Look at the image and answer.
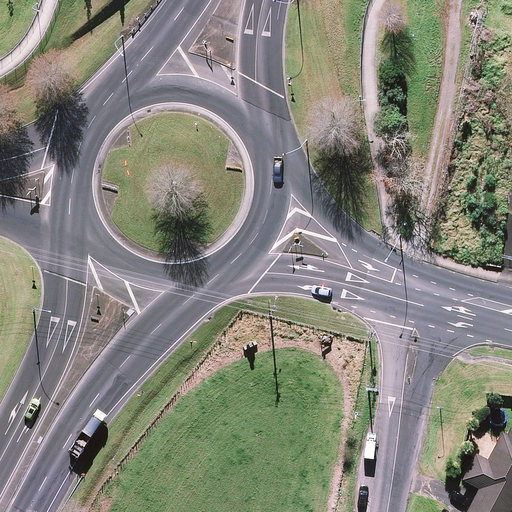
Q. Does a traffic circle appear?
Yes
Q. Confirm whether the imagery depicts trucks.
Yes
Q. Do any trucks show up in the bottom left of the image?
Yes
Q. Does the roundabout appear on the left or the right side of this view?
left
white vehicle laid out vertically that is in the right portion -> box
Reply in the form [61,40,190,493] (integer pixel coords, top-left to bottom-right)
[364,434,378,462]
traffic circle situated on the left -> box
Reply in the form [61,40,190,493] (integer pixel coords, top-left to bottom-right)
[93,102,254,264]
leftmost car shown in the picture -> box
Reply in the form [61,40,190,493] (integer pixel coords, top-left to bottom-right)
[26,396,41,418]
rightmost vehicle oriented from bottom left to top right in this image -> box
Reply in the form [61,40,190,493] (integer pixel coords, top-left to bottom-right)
[68,410,107,460]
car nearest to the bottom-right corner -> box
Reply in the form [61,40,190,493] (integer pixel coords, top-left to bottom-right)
[450,490,471,510]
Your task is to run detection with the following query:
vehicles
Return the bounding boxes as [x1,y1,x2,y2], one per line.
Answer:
[364,434,378,462]
[68,410,107,460]
[450,490,471,510]
[311,286,332,296]
[272,158,283,184]
[358,486,368,508]
[26,396,41,418]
